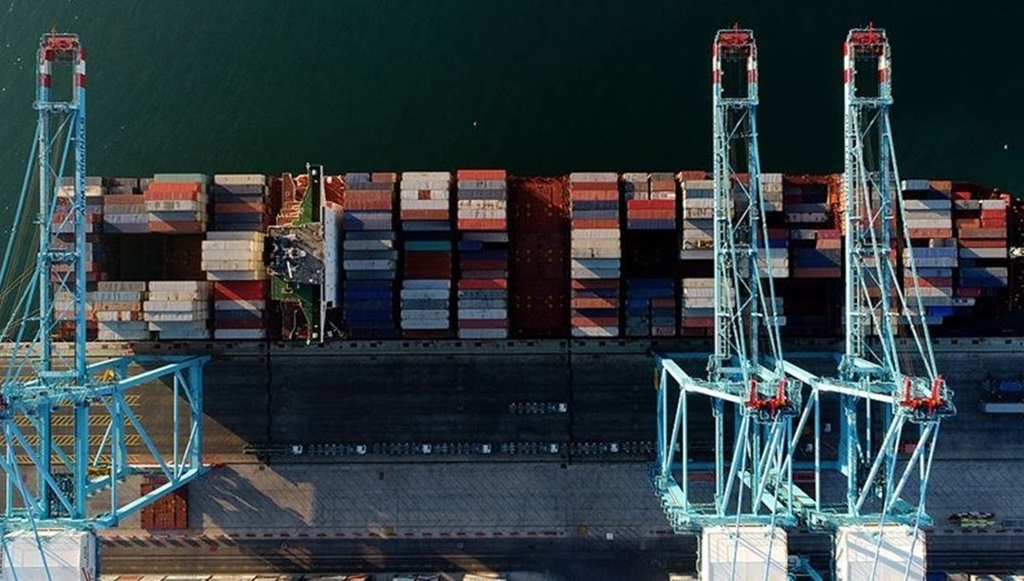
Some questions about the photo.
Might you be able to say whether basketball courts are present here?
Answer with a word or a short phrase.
No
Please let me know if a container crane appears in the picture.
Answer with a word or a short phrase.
Yes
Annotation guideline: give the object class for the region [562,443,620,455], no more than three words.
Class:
vehicle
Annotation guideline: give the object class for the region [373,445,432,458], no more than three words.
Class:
vehicle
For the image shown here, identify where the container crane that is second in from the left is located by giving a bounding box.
[635,18,802,581]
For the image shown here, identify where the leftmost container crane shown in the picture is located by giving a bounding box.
[0,22,223,581]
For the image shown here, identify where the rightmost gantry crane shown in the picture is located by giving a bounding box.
[742,17,953,581]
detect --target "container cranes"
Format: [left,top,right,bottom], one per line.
[0,22,223,581]
[742,17,953,581]
[635,18,802,581]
